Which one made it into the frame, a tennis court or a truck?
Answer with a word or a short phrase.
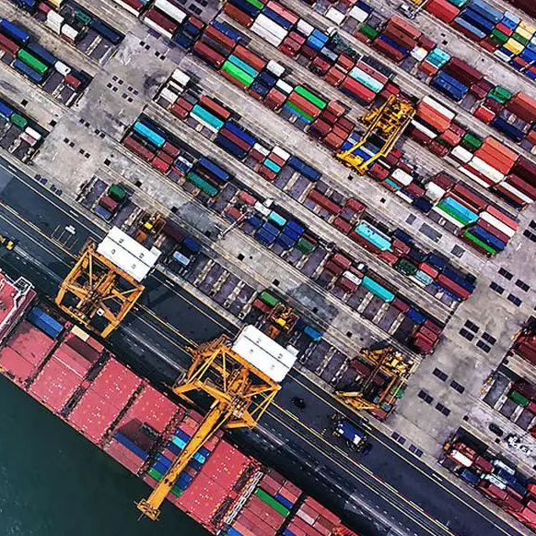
truck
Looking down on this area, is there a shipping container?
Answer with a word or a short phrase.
Yes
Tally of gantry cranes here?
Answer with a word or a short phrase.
4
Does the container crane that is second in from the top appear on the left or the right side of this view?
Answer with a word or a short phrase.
left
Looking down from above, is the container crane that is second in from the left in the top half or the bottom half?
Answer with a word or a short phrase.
bottom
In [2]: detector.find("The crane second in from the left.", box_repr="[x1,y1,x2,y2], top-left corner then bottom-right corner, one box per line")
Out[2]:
[134,302,308,523]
